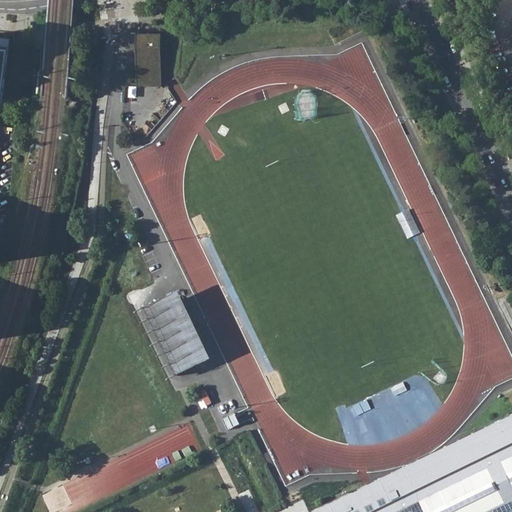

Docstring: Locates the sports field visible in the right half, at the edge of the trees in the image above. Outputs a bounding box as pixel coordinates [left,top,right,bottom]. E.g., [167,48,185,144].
[184,84,464,445]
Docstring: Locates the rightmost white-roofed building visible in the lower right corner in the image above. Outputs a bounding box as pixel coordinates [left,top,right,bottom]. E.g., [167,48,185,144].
[330,415,512,512]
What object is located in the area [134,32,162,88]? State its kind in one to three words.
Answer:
building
